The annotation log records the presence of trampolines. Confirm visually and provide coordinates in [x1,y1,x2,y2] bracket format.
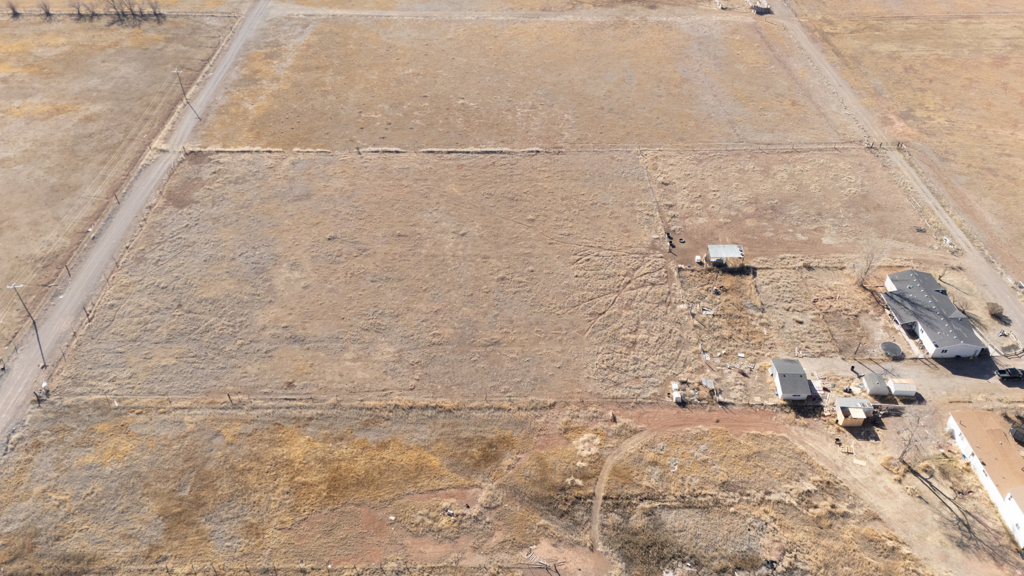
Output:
[1006,419,1024,448]
[878,340,903,359]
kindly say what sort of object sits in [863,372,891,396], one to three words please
shed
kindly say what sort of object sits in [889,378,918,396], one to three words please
shed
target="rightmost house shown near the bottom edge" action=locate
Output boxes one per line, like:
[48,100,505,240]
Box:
[944,409,1024,551]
